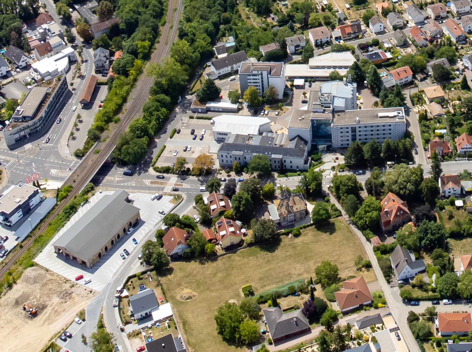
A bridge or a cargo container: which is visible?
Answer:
bridge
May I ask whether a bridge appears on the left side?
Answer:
Yes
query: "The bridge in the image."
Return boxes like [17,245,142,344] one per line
[64,146,114,193]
